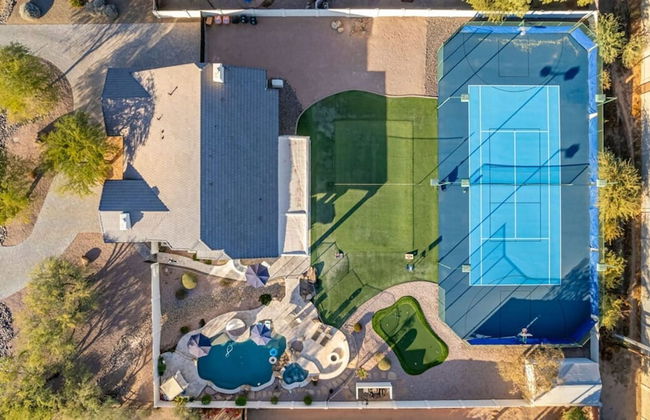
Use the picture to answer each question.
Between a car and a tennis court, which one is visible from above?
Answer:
tennis court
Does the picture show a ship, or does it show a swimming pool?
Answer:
swimming pool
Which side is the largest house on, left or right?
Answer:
left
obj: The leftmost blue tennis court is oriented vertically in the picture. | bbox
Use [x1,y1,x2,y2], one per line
[439,32,589,338]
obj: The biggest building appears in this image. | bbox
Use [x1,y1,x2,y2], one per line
[98,64,284,261]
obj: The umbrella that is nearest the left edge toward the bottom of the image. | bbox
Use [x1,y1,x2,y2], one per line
[189,332,213,355]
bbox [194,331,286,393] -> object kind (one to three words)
swimming pool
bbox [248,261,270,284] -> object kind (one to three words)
umbrella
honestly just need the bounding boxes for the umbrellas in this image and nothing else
[189,332,213,355]
[248,261,270,284]
[251,322,273,344]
